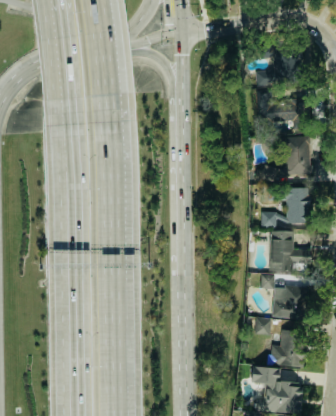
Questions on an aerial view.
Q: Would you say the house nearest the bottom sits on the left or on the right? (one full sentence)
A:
The house nearest the bottom sits on the right side.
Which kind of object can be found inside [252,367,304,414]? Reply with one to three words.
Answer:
house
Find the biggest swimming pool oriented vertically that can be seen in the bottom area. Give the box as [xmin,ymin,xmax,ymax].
[256,244,268,269]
